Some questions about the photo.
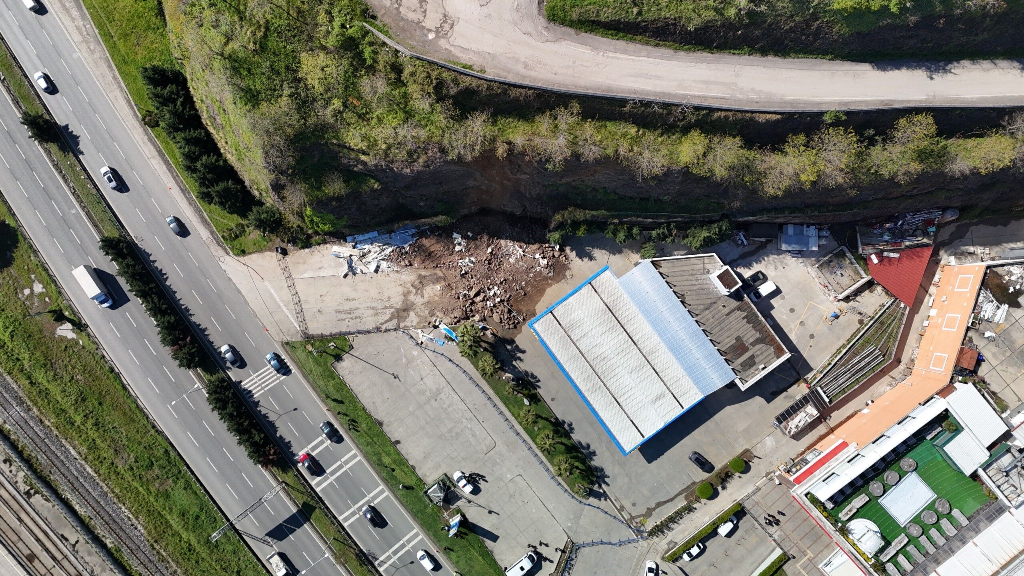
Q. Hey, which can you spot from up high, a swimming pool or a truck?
truck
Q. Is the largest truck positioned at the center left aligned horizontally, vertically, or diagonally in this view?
diagonally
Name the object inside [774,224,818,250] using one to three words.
shed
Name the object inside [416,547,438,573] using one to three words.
car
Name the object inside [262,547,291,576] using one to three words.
truck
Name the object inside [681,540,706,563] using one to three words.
car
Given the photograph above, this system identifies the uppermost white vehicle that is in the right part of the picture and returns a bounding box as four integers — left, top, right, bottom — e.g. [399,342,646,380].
[748,281,777,302]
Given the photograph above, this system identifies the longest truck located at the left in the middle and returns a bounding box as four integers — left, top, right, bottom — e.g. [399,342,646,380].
[71,264,115,307]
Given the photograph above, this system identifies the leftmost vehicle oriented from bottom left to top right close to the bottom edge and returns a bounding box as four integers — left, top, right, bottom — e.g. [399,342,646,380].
[501,550,535,576]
